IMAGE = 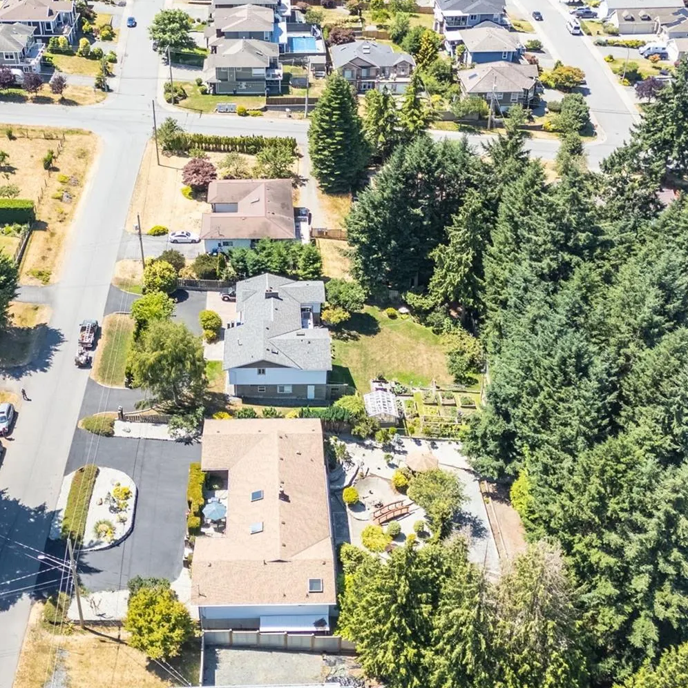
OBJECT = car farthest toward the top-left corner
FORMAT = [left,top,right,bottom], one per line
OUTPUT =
[125,10,138,25]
